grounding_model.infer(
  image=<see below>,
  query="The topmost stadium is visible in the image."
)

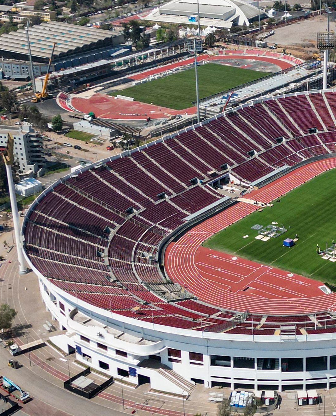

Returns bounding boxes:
[125,0,267,32]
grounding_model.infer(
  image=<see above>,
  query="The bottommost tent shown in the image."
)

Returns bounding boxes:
[14,171,62,194]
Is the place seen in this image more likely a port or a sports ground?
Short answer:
sports ground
